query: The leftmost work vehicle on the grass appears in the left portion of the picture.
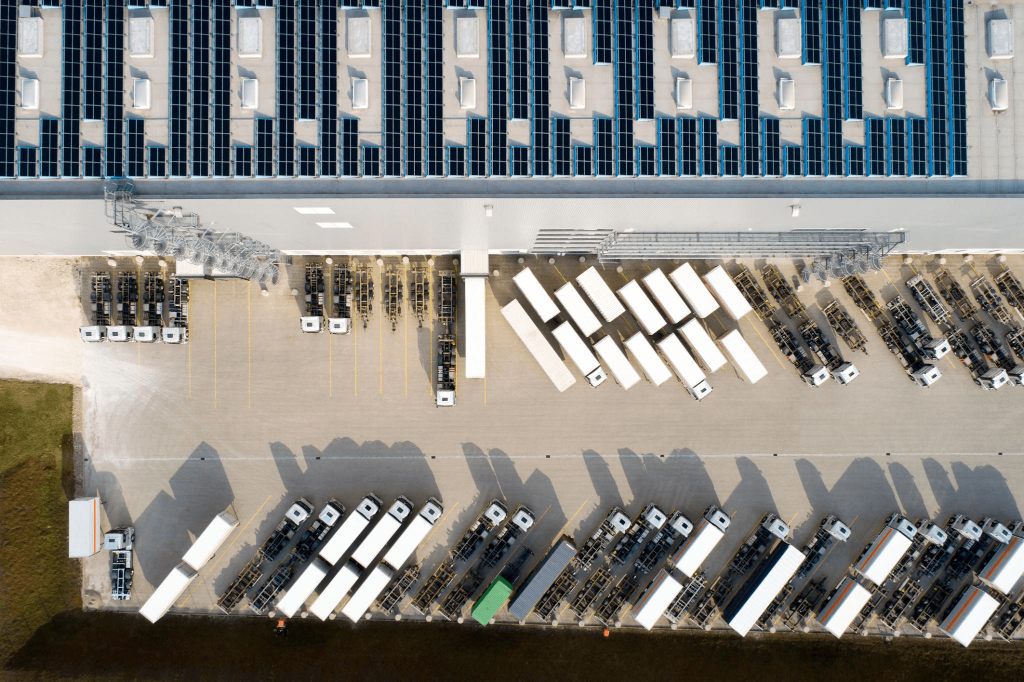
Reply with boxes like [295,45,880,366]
[275,621,287,638]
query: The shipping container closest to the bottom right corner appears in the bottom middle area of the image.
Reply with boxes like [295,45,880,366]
[509,536,576,620]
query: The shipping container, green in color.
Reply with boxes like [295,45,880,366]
[472,573,513,625]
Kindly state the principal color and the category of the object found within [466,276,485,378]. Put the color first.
white trailer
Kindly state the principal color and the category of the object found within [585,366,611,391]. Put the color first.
white truck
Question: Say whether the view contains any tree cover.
No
